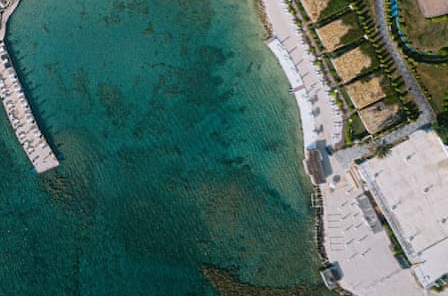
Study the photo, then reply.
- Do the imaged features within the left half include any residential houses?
No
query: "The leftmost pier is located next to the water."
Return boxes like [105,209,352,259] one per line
[0,39,60,173]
